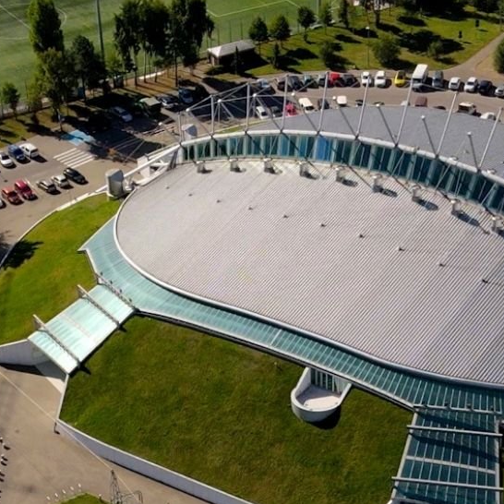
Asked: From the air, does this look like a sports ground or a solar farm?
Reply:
sports ground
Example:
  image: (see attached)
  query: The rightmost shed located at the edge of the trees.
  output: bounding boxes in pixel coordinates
[201,31,255,66]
